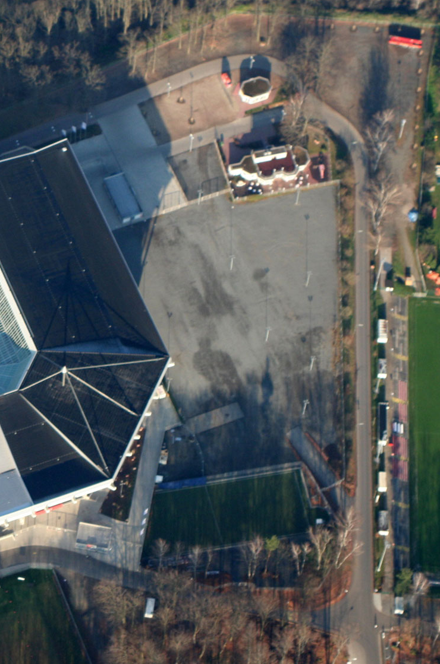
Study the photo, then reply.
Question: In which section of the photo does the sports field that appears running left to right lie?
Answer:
bottom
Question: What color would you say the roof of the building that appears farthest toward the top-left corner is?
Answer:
blue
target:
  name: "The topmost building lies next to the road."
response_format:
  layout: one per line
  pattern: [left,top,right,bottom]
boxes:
[239,76,272,105]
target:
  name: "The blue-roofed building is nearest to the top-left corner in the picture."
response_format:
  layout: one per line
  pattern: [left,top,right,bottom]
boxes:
[103,173,143,223]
